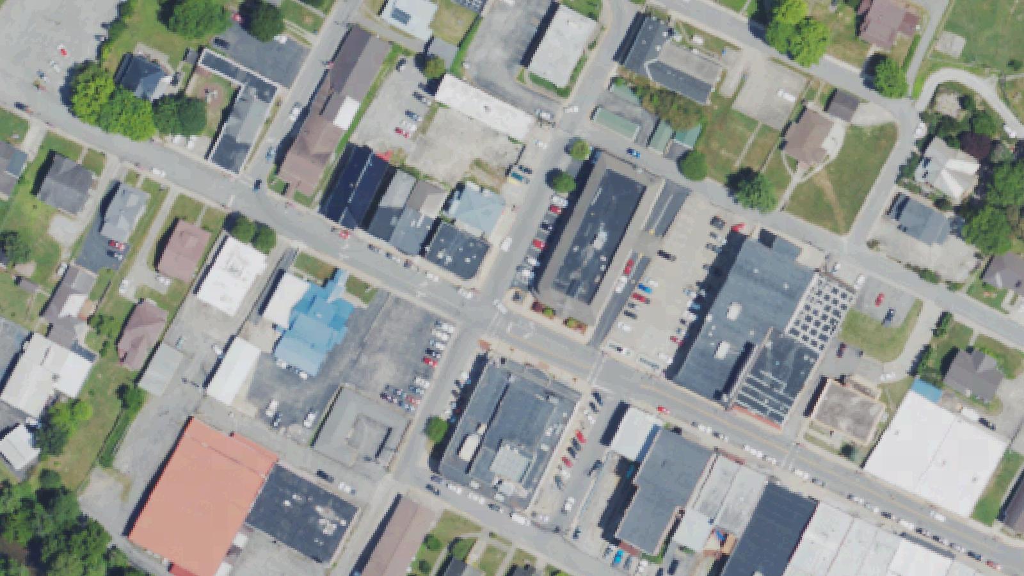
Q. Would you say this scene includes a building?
Yes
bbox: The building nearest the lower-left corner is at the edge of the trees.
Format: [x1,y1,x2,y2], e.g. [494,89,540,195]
[0,423,41,479]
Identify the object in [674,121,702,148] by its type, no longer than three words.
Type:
shed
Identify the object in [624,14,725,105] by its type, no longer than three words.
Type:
house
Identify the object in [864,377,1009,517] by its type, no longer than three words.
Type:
warehouse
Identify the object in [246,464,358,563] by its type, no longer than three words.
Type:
building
